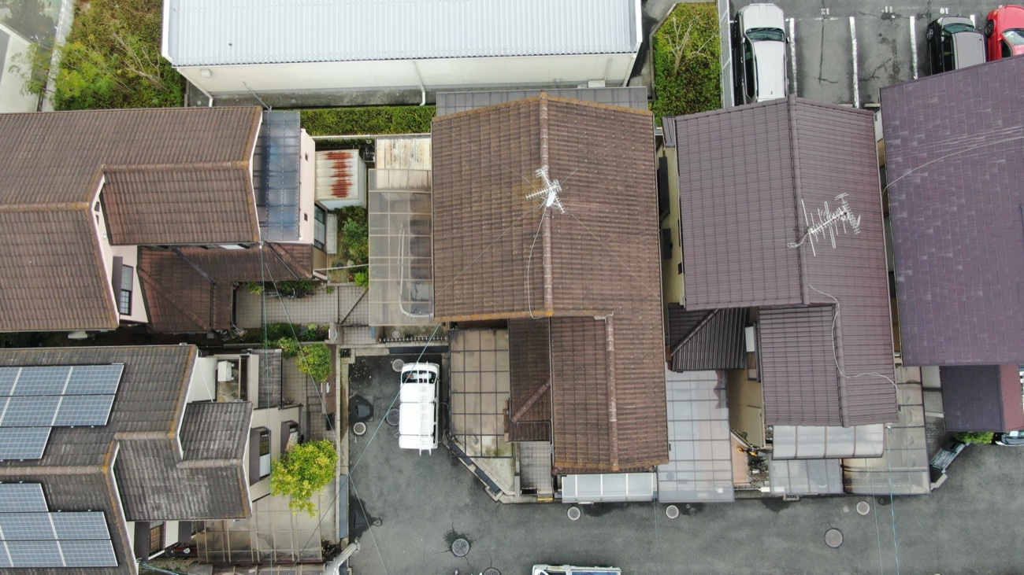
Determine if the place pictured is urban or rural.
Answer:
urban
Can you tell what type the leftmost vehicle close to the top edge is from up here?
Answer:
car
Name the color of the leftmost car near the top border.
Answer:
white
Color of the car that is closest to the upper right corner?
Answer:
red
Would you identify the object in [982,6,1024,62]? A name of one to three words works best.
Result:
car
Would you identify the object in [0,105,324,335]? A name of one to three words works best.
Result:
house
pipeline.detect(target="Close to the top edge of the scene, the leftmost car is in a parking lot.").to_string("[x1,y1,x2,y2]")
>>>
[733,5,788,106]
